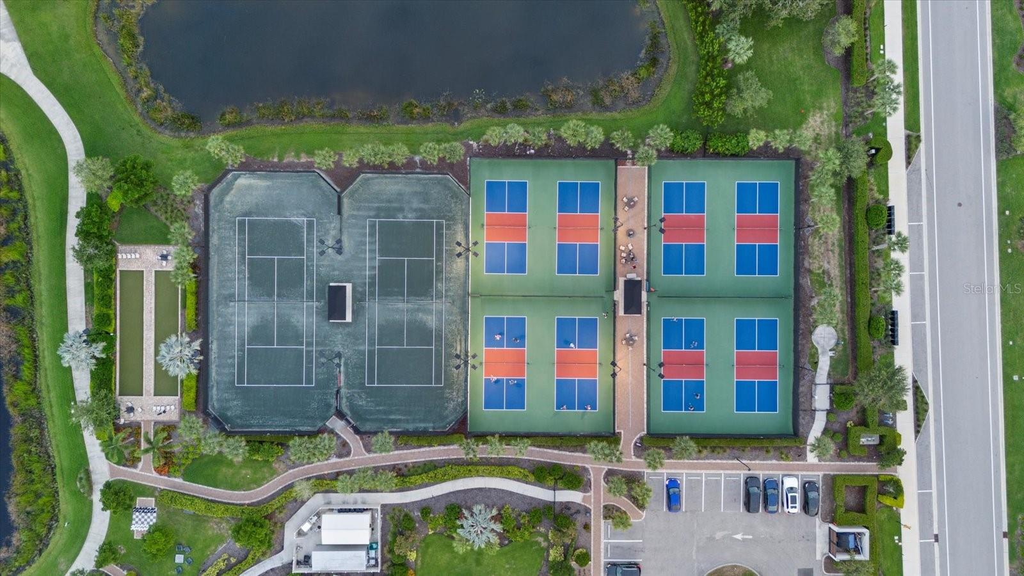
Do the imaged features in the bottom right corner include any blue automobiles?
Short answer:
Yes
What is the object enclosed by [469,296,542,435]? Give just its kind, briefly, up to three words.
sports court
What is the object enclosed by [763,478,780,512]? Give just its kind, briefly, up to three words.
car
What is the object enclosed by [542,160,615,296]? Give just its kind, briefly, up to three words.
sports court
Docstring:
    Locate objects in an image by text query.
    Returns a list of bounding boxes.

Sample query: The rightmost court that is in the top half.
[721,160,794,296]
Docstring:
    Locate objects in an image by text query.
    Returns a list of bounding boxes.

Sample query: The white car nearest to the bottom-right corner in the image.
[782,476,801,513]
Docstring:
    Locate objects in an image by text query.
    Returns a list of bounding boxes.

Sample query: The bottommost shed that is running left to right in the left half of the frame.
[312,545,368,571]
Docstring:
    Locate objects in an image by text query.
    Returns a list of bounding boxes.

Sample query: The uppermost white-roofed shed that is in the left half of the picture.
[321,510,373,544]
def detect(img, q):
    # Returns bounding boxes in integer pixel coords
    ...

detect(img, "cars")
[802,481,821,515]
[782,476,801,513]
[606,562,641,576]
[744,476,762,512]
[665,478,681,511]
[763,478,780,512]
